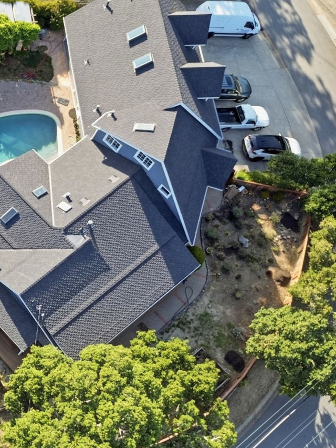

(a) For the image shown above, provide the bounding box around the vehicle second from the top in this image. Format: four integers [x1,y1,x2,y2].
[213,78,259,106]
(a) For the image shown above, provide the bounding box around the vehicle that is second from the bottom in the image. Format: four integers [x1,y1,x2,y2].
[215,107,276,136]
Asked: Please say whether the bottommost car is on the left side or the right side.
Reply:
right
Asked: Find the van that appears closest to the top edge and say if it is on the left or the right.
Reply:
right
